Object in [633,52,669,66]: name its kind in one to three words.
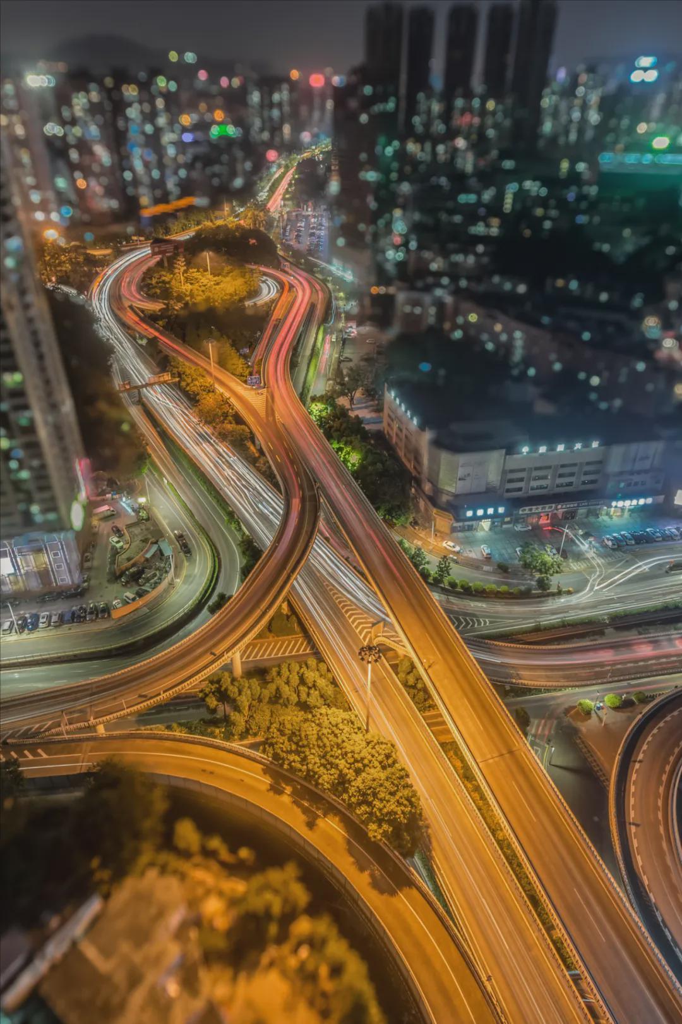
building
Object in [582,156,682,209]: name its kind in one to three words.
building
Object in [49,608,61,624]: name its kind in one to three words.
vehicle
